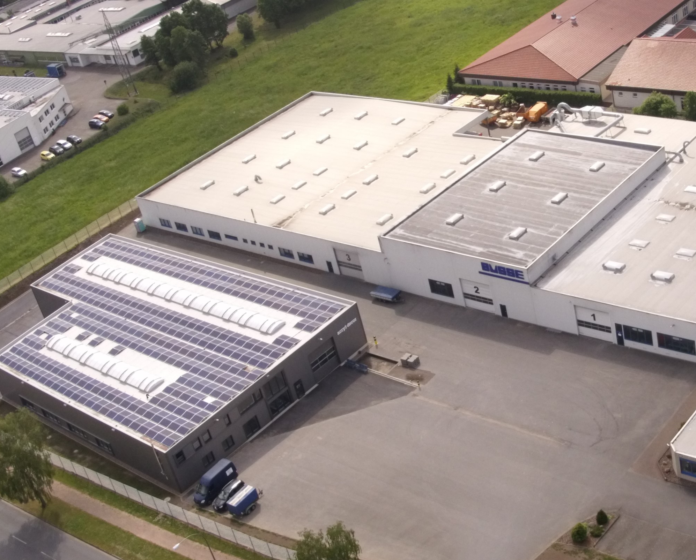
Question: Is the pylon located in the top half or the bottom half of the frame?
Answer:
top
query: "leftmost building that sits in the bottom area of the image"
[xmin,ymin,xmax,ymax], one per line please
[0,233,368,494]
